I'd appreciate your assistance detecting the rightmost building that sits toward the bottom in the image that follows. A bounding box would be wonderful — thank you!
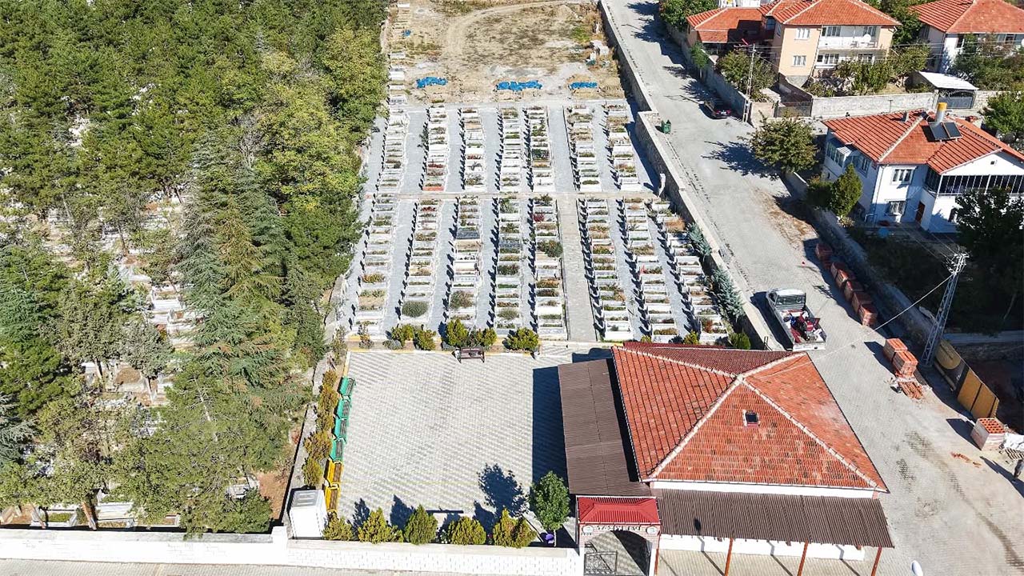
[557,344,893,576]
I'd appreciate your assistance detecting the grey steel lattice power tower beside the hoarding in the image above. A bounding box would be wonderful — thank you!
[915,252,978,374]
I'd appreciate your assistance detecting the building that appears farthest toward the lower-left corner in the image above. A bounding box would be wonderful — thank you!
[290,489,329,538]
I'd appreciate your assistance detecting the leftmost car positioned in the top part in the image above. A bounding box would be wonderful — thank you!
[699,93,733,116]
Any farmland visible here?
No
